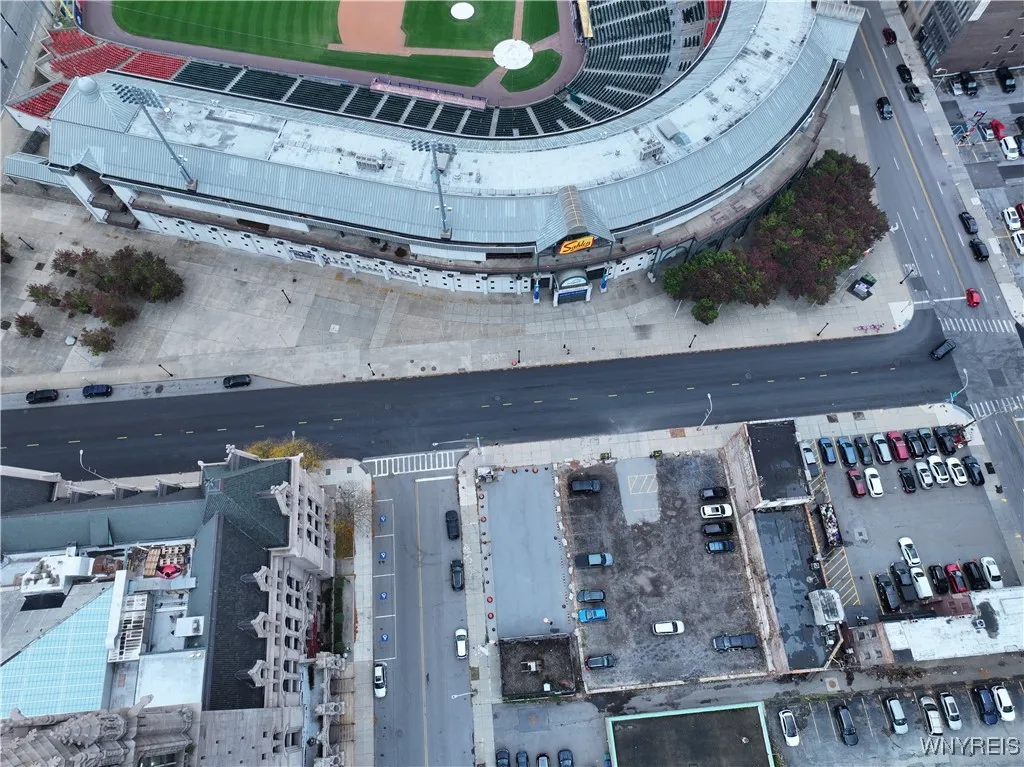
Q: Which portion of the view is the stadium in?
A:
top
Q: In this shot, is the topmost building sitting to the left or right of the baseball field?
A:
to its right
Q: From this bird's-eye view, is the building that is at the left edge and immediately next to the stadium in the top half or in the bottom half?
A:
bottom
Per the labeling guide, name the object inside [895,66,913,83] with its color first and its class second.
black car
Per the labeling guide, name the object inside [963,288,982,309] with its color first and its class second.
red car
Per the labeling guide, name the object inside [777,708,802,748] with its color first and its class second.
white car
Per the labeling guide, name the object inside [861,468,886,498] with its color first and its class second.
white car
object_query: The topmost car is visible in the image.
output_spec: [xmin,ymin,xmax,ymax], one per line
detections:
[880,28,897,44]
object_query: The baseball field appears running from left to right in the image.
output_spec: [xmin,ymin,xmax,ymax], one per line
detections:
[76,0,594,109]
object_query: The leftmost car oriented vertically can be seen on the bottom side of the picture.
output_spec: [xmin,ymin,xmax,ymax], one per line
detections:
[371,661,388,699]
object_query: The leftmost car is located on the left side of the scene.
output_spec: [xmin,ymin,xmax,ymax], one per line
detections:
[28,390,59,404]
